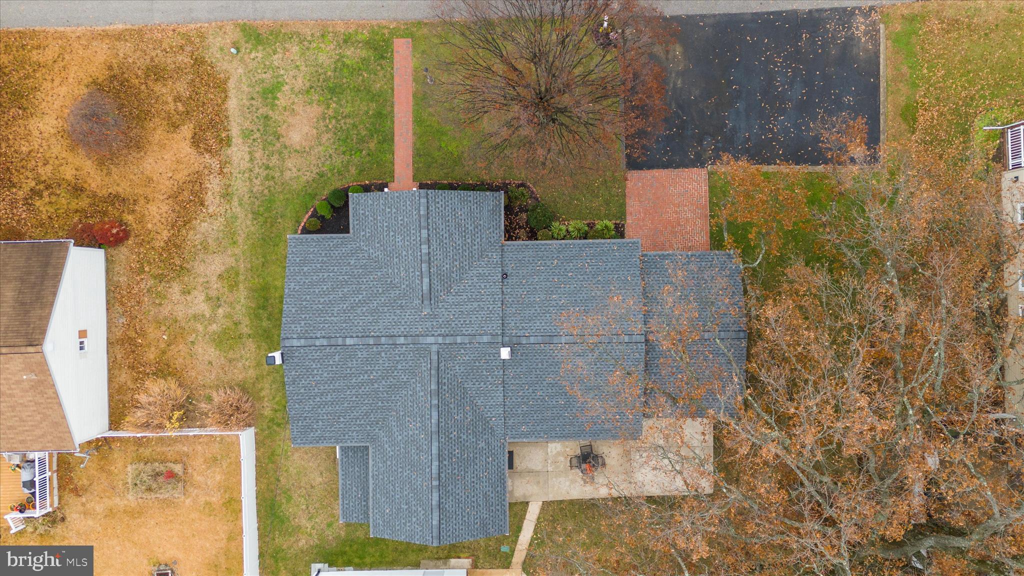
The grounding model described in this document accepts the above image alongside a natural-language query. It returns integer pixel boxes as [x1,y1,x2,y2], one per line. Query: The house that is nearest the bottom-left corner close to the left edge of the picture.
[0,238,109,456]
